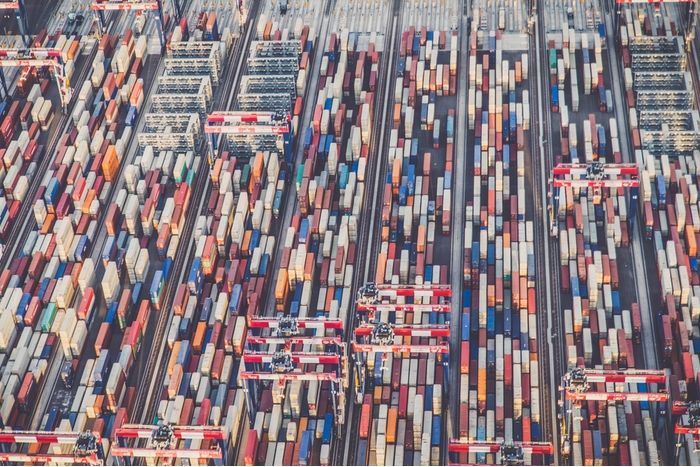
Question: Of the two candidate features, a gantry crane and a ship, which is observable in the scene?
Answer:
gantry crane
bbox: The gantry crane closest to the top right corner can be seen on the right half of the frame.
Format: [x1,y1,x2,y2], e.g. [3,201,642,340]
[616,0,697,49]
